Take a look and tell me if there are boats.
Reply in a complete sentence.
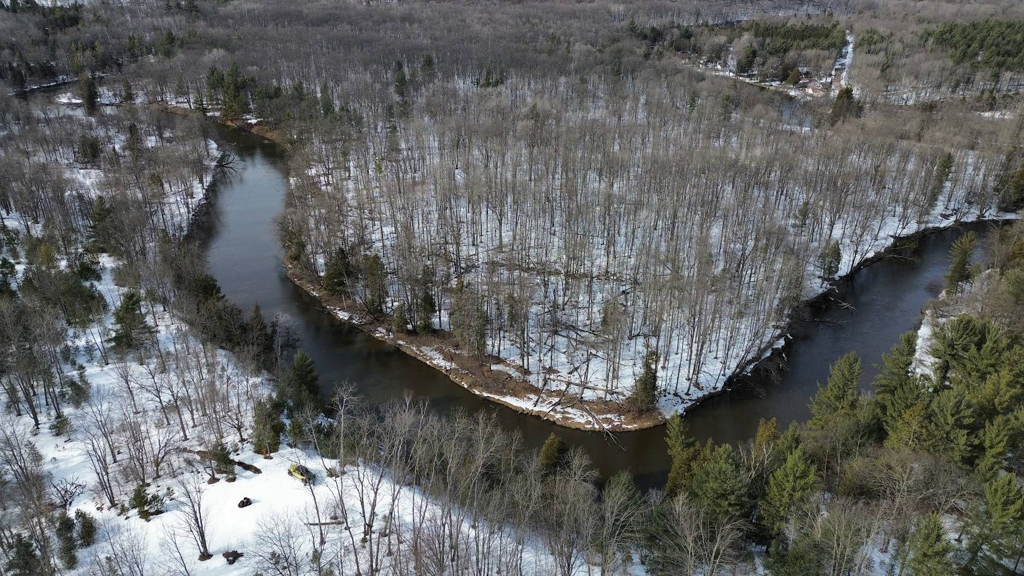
No, the picture doesn't show any boat.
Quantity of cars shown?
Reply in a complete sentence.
Altogether the scene contains 1 car.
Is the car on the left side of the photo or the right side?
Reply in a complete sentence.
It is on the left.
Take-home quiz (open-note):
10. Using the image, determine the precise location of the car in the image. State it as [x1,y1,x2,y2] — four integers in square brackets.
[287,464,315,484]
